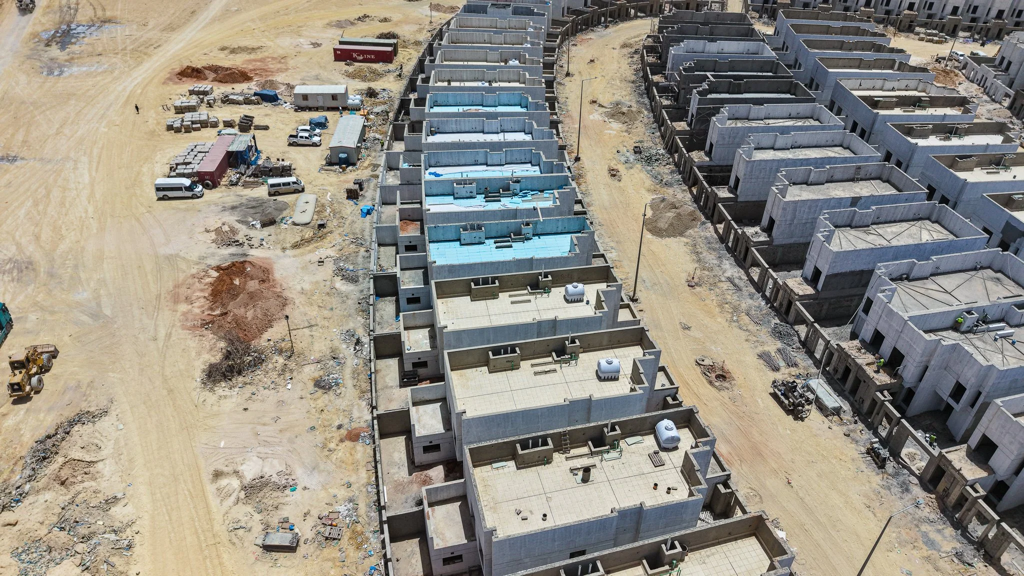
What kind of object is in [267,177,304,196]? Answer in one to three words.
vehicle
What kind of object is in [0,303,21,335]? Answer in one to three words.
truck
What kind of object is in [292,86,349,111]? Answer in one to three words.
building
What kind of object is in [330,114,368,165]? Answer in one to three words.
building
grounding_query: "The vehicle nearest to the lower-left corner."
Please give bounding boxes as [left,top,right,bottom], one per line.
[0,342,63,398]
